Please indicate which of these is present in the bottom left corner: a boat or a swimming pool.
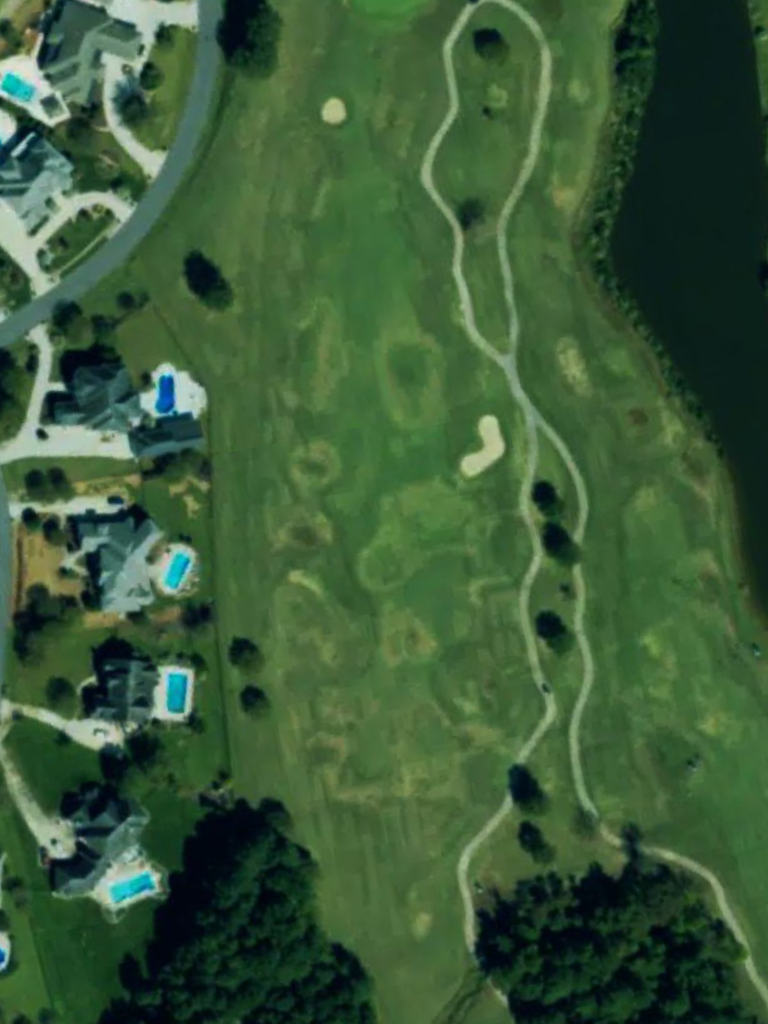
swimming pool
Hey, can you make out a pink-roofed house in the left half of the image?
No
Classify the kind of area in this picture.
golf course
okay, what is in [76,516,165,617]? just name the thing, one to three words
house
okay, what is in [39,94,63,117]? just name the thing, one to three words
building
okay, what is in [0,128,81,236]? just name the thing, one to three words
house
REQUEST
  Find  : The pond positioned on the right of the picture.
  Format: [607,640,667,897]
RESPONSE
[611,0,768,631]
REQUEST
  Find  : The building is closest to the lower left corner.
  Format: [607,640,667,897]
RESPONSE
[46,799,156,904]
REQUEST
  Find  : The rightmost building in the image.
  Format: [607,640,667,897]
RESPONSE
[125,413,205,459]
